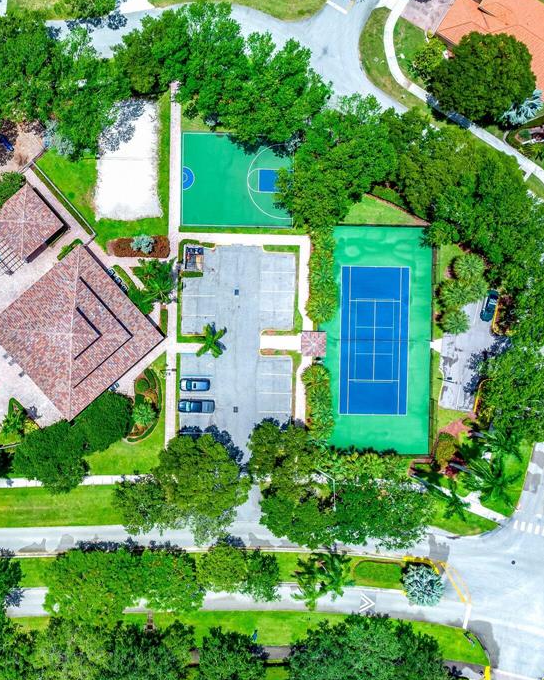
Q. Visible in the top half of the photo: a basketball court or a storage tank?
basketball court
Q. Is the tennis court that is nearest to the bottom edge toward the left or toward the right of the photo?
right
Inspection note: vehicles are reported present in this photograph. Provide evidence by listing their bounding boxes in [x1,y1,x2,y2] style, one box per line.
[477,291,497,320]
[180,378,210,392]
[178,399,215,414]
